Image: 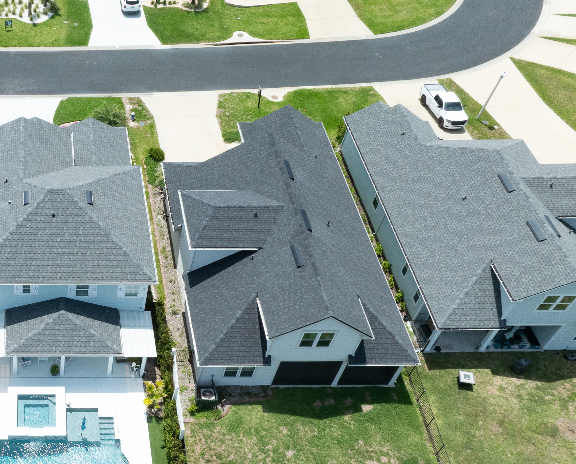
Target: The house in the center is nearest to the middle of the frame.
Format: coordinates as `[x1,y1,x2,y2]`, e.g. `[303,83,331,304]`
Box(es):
[162,102,422,388]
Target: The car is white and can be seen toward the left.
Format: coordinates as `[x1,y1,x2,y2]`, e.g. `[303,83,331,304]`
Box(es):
[120,0,141,13]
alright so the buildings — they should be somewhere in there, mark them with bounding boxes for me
[342,101,576,352]
[0,118,159,377]
[162,102,422,388]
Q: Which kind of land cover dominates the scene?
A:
buildings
